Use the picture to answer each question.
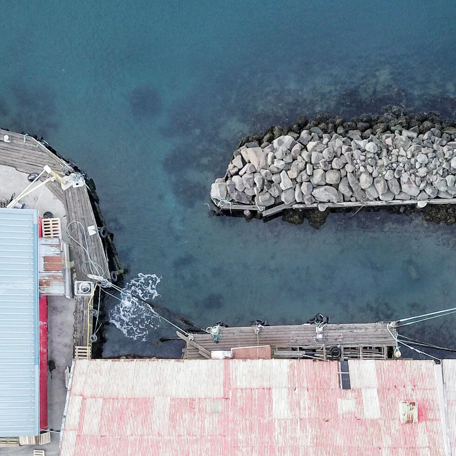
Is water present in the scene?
Yes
